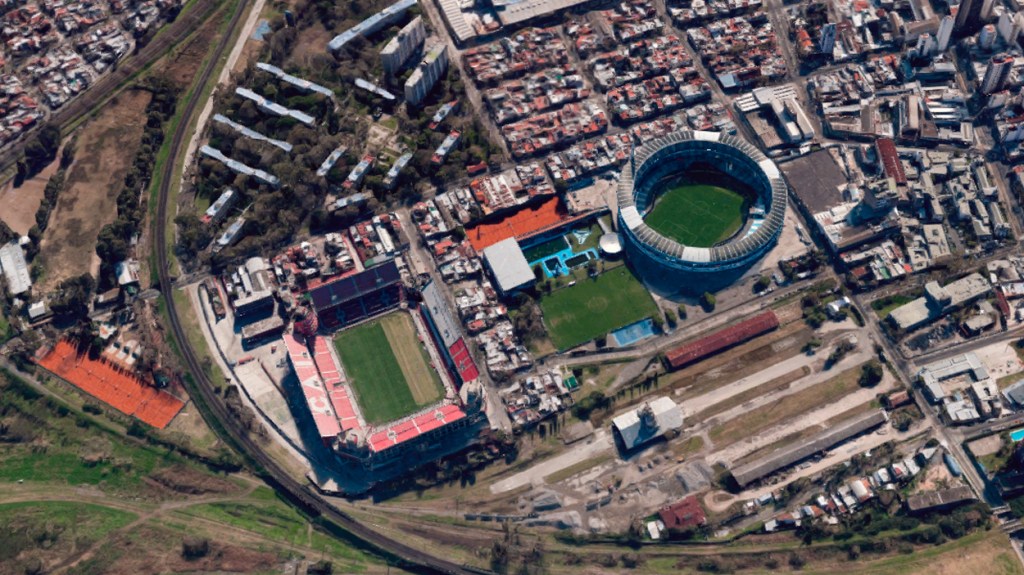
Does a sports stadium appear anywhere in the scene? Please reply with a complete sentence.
Yes, the photo shows a sports stadium.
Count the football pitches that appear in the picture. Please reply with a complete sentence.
The count of football pitches comes to 3.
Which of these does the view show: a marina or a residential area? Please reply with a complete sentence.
It's a residential area.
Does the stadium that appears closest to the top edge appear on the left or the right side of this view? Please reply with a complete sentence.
The stadium that appears closest to the top edge is on the right side of the image.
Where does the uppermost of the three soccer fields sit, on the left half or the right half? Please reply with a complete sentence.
The uppermost of the three soccer fields is on the right side of the image.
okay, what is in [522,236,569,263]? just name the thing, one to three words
swimming pool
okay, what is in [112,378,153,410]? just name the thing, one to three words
tennis court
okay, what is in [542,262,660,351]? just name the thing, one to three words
soccer field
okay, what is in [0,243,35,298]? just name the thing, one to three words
shed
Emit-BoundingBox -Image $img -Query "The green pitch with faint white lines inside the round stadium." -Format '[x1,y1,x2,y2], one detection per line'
[648,167,750,246]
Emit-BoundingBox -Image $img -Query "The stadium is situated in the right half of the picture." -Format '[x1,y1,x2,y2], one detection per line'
[617,131,787,277]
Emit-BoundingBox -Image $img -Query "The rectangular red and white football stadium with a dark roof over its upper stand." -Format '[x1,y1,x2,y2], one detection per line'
[283,262,486,463]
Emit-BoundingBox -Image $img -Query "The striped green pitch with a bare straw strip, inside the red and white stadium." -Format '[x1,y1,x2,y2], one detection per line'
[333,310,444,425]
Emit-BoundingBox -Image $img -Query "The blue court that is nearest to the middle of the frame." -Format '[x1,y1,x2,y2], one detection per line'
[612,318,655,346]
